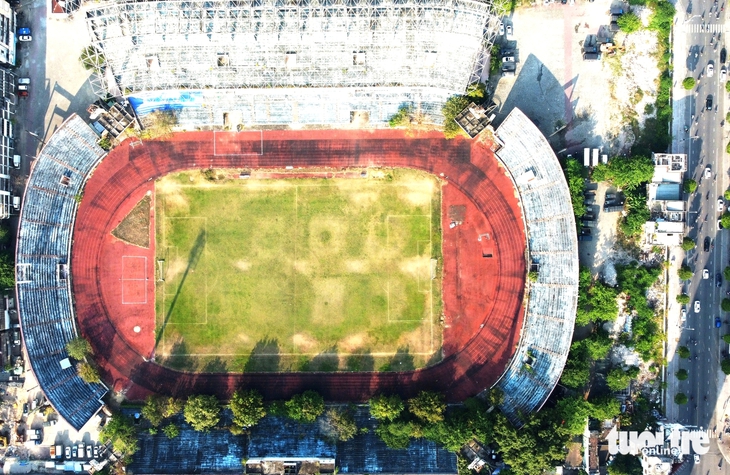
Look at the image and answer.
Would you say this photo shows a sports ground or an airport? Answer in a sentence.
It's a sports ground.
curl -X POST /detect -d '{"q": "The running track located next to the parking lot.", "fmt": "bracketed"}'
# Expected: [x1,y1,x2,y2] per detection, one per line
[75,131,526,401]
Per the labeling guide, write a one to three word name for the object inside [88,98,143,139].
building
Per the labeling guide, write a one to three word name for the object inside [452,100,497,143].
building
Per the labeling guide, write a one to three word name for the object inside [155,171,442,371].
soccer field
